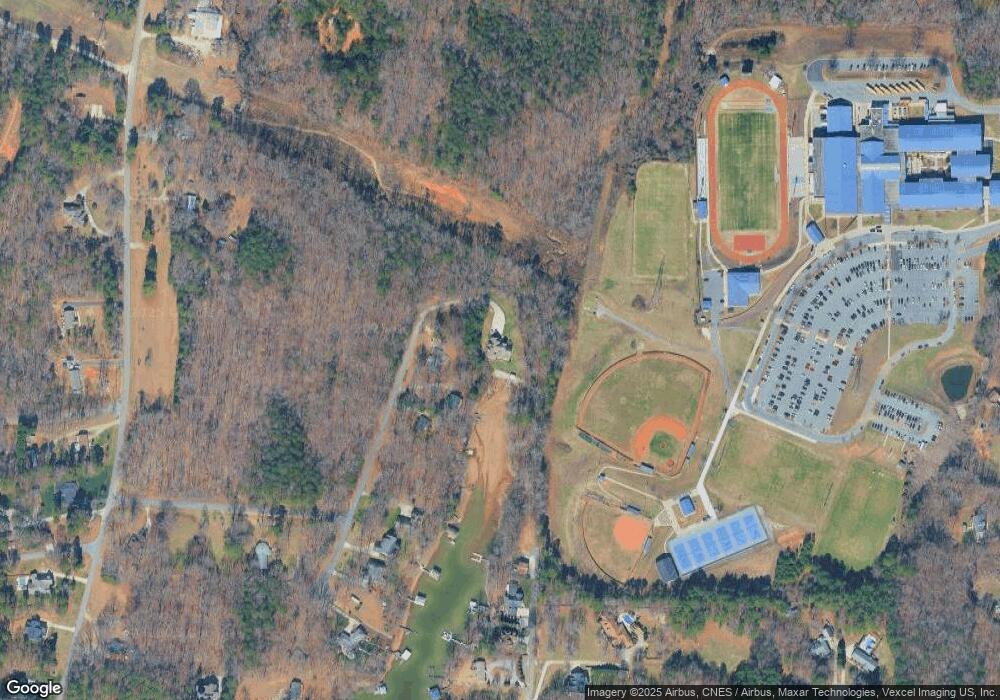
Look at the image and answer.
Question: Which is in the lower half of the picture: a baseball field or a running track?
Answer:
baseball field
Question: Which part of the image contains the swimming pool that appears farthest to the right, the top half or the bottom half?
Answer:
bottom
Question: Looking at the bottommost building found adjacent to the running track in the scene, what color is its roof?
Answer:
blue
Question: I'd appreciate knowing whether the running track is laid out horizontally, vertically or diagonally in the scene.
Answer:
vertically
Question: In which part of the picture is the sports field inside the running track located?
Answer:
top right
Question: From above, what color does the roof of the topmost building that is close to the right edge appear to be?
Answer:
blue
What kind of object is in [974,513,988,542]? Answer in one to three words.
house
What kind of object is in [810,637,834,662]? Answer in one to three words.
house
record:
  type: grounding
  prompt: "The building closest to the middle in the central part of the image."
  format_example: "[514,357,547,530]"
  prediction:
[485,332,512,357]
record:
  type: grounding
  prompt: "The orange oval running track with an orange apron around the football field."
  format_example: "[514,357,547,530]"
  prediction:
[706,79,788,264]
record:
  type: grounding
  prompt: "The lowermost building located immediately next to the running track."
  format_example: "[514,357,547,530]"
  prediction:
[728,272,761,307]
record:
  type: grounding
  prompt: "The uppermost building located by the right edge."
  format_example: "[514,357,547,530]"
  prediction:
[813,98,1000,225]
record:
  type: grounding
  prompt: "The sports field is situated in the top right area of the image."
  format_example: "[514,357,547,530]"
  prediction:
[719,113,776,229]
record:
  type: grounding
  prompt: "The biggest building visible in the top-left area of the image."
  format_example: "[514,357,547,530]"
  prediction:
[189,2,224,39]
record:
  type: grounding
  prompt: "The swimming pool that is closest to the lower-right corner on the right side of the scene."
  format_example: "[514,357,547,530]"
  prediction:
[857,634,880,656]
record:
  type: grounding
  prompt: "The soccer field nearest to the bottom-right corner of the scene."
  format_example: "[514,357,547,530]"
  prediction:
[817,458,904,571]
